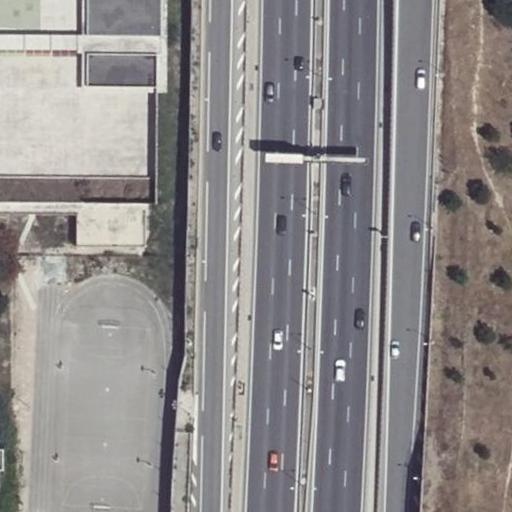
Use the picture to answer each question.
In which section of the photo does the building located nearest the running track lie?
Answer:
left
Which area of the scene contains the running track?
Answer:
bottom left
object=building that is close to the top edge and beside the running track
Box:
[0,0,168,178]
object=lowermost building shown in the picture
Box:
[0,202,148,250]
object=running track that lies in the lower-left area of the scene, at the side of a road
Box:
[29,276,176,512]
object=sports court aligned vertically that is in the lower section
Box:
[64,327,150,512]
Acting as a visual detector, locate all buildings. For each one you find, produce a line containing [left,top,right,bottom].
[0,0,168,178]
[0,202,148,250]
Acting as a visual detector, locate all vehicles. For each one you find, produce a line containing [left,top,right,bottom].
[277,216,287,235]
[264,82,274,102]
[342,174,352,195]
[412,222,421,242]
[336,360,346,381]
[295,56,304,71]
[274,330,284,350]
[390,341,400,359]
[356,308,365,328]
[417,68,426,88]
[269,450,278,470]
[212,132,222,151]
